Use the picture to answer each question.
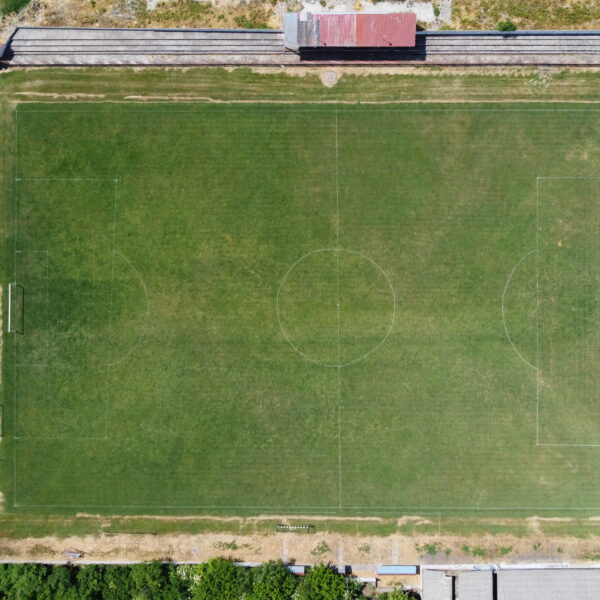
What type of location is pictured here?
sports ground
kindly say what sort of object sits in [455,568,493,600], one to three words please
shed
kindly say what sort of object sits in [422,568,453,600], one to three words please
shed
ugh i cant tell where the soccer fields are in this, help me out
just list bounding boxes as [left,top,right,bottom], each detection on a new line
[13,103,600,534]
